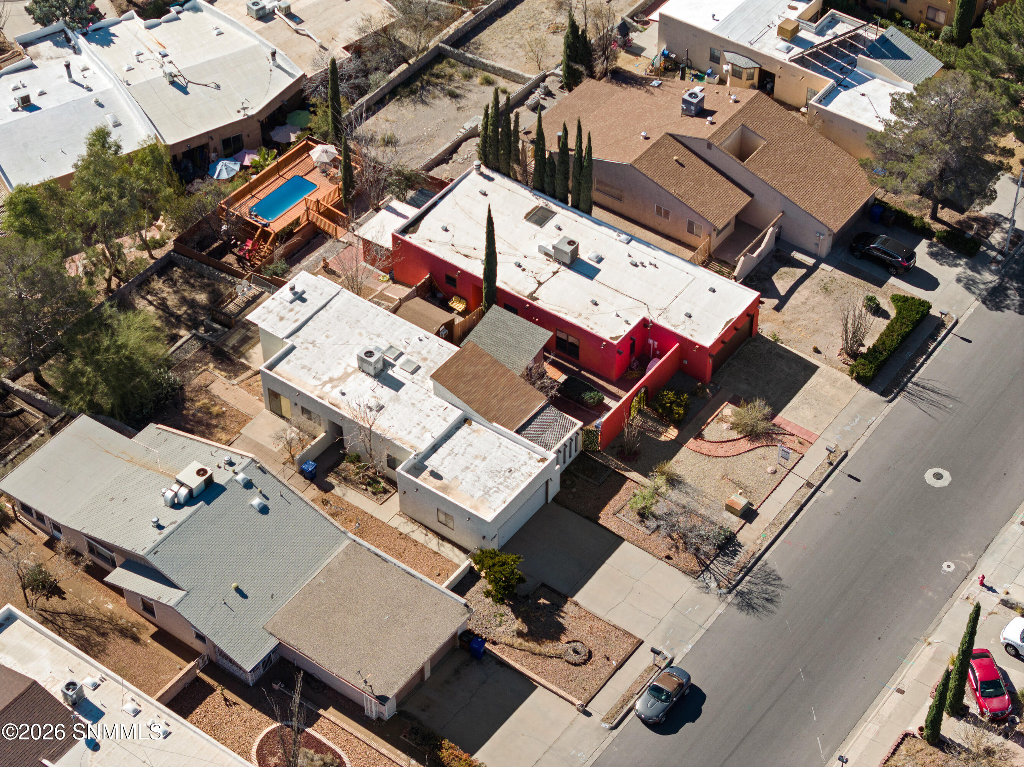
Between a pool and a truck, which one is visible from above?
pool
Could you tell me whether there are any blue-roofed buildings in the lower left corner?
No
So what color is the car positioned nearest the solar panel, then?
black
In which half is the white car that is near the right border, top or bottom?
bottom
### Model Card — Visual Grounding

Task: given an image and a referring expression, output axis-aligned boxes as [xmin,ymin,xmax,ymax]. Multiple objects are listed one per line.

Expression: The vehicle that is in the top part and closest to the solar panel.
[848,231,920,275]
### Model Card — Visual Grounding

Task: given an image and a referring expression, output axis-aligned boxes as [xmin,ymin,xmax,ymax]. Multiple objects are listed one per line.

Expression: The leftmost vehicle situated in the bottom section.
[632,665,692,727]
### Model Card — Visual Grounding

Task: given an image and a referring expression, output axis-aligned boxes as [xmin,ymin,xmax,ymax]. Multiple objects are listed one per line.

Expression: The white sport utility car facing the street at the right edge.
[1000,616,1024,654]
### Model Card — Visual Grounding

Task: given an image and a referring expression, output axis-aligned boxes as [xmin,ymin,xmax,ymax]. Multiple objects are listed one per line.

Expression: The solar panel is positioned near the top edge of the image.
[787,20,874,75]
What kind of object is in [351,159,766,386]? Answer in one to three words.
house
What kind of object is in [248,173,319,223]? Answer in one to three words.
swimming pool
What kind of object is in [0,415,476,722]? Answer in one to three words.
house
